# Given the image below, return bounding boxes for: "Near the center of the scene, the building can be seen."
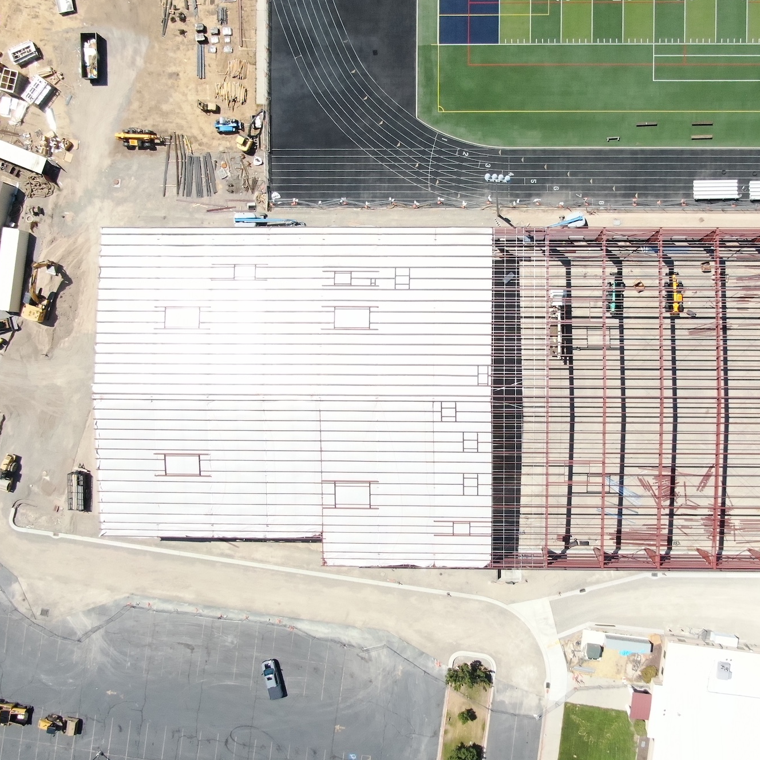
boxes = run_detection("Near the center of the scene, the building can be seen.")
[93,227,760,570]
